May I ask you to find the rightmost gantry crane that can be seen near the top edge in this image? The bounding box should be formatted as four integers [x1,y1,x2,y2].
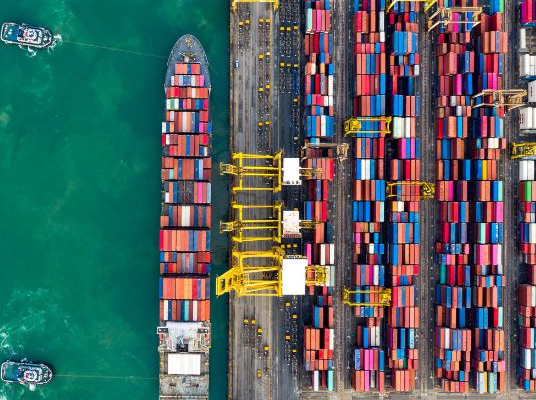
[428,9,484,37]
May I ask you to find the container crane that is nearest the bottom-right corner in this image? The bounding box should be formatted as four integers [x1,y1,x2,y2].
[343,281,394,307]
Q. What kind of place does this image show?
port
